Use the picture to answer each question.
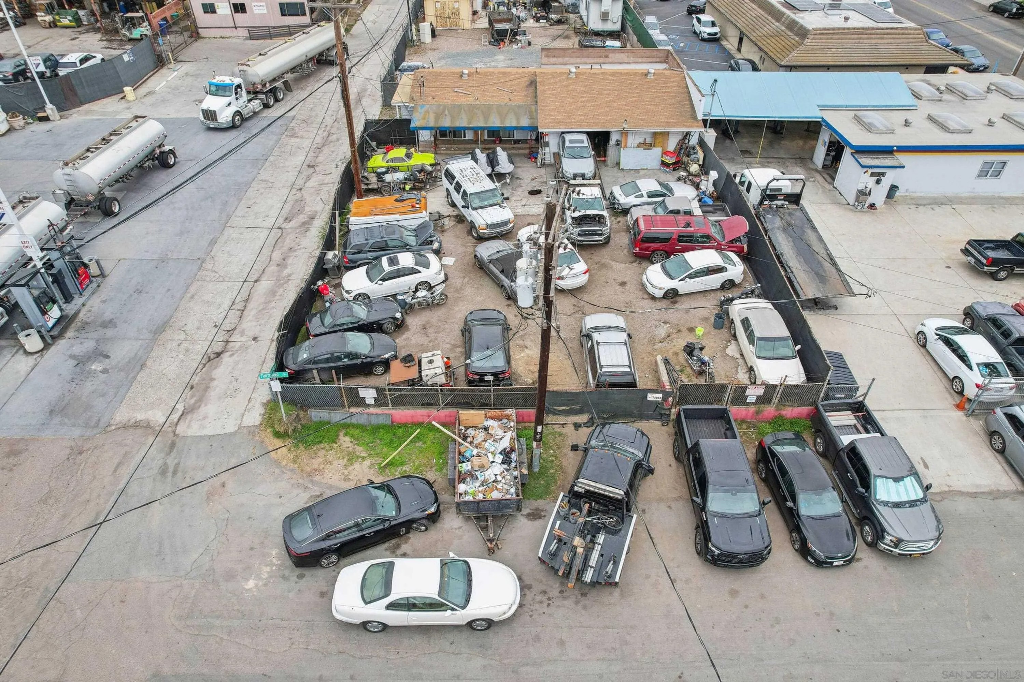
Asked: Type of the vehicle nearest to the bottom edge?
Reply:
automobile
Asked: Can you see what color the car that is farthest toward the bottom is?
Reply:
white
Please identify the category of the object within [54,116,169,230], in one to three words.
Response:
trailer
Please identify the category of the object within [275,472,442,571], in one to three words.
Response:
car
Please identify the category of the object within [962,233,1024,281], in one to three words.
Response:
truck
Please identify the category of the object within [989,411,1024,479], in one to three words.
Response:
car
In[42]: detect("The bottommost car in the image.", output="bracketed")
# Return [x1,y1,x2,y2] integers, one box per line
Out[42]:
[330,545,522,632]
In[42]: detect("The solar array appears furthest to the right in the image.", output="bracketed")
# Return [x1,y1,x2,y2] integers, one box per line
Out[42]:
[844,3,904,23]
